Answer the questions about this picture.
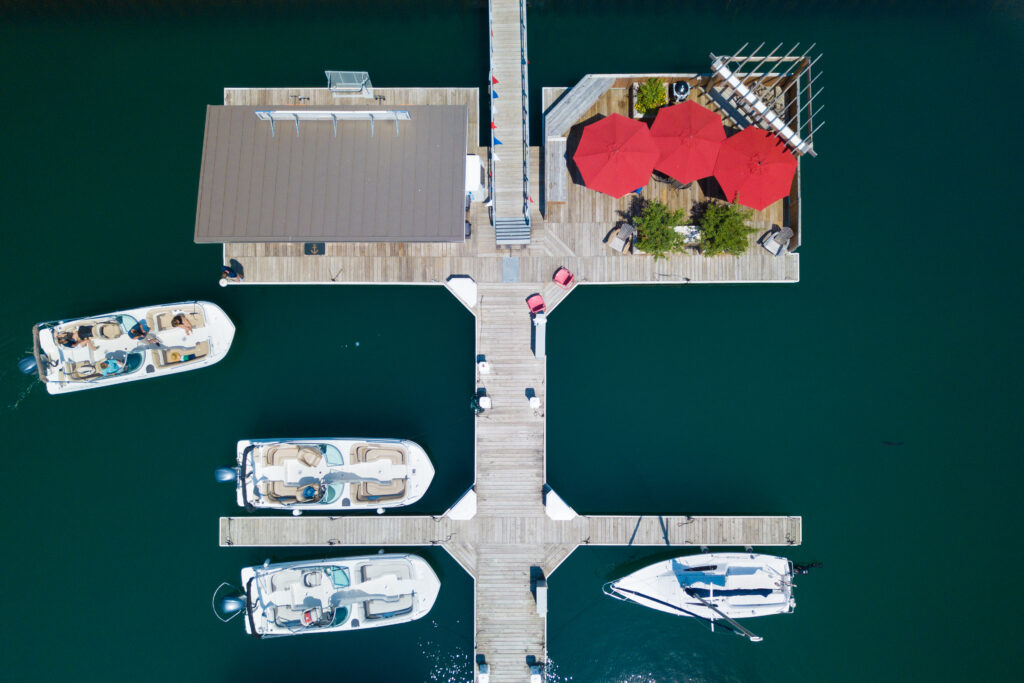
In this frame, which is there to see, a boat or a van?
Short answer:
boat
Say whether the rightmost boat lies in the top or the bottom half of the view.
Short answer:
bottom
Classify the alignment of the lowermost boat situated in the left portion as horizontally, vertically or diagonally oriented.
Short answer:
horizontally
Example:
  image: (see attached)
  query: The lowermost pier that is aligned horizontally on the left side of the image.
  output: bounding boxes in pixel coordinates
[219,486,476,579]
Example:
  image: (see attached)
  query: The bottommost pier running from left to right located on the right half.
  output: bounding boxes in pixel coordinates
[545,485,802,578]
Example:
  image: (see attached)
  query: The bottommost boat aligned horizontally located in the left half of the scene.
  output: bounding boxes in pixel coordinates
[219,551,440,638]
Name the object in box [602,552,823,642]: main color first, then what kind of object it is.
white boat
